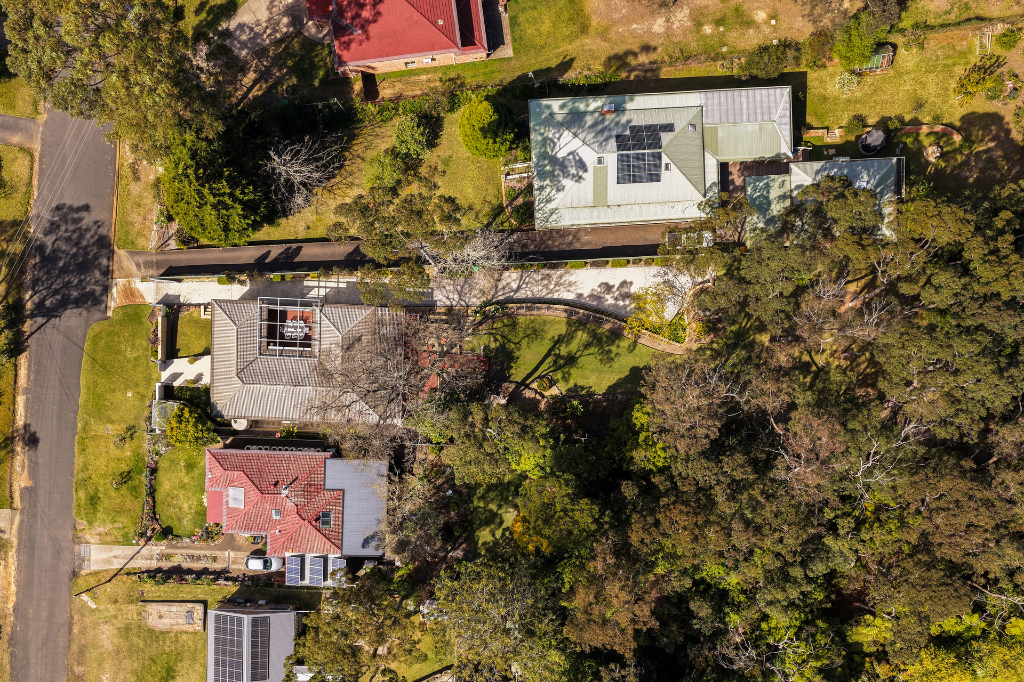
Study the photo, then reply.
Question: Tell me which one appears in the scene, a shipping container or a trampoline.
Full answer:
This aerial view contains a trampoline.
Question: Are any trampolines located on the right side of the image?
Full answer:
Yes, on the right side of the image there is a trampoline.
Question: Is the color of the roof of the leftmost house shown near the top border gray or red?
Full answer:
The color of the roof of the leftmost house shown near the top border is red.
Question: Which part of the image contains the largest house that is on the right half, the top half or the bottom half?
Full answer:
You can find the largest house that is on the right half in the top half.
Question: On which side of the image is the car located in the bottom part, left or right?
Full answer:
The car located in the bottom part sits on the left side.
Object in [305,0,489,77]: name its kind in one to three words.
house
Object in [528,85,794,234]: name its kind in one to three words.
house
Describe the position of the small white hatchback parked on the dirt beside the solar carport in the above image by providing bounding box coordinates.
[244,554,283,574]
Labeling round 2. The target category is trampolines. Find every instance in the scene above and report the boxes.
[857,125,892,156]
